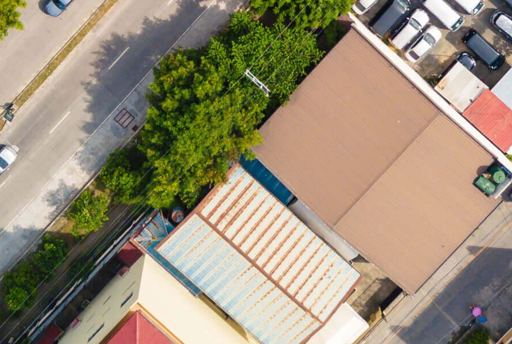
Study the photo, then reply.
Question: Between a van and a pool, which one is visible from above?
van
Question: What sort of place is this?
industrial area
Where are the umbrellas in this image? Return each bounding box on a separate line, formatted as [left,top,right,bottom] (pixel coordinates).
[471,305,483,317]
[477,315,487,324]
